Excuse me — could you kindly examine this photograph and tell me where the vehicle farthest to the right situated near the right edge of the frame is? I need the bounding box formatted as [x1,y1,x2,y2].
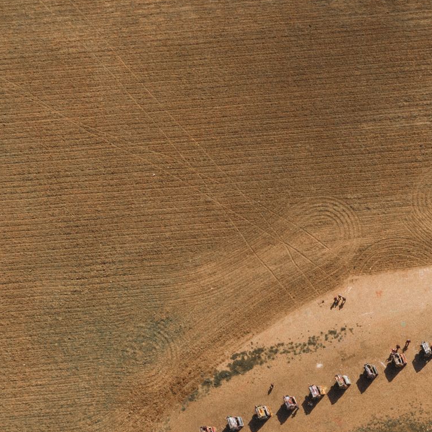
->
[419,339,432,355]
